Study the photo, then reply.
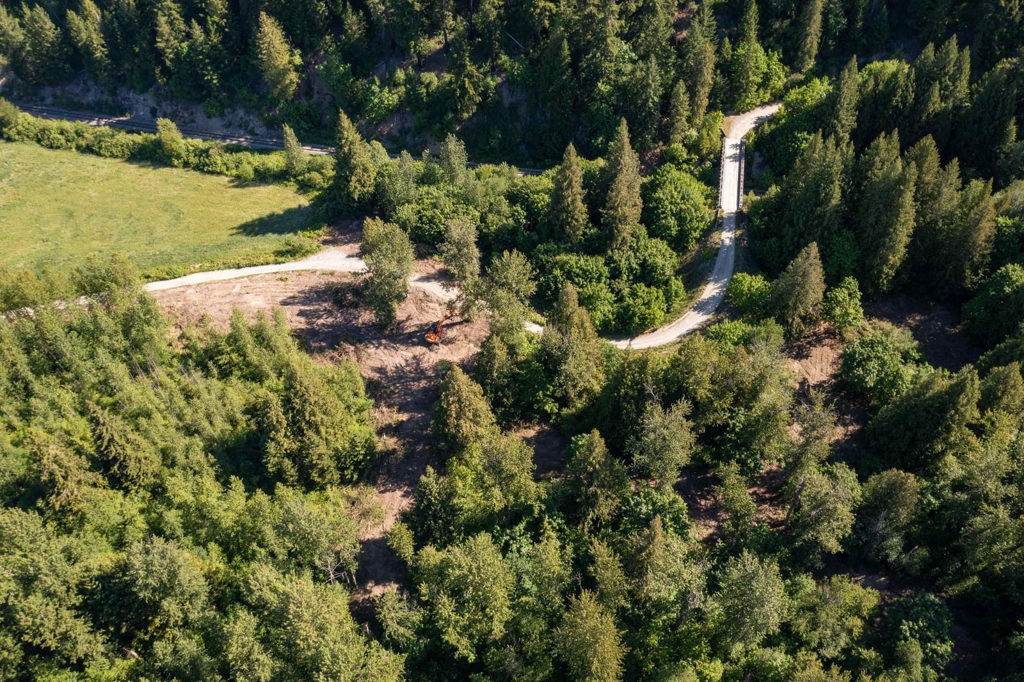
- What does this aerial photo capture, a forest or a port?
forest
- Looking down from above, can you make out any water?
No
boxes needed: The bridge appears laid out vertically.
[718,133,745,214]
